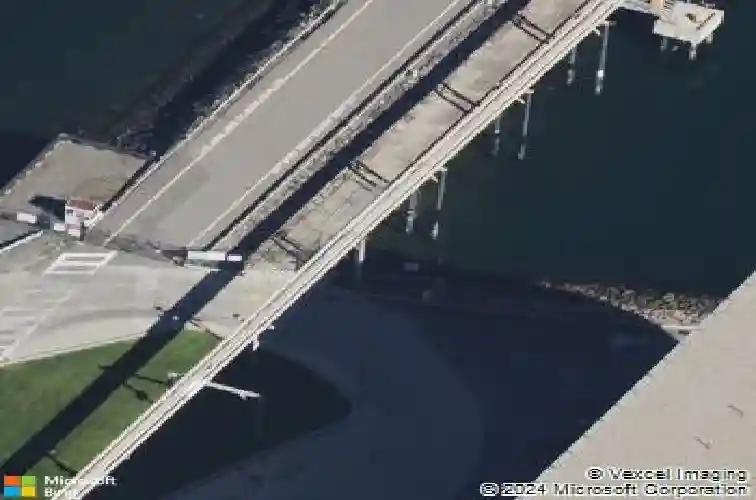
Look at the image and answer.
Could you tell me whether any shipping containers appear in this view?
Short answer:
No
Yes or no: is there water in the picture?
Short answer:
Yes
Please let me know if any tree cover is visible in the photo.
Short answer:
No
